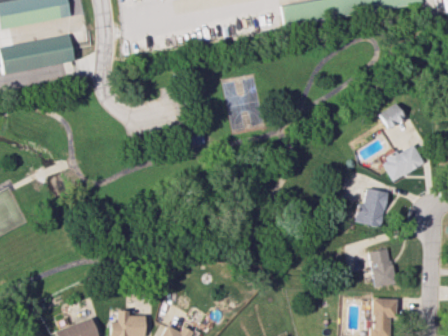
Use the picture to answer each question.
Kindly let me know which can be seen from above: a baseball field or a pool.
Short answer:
pool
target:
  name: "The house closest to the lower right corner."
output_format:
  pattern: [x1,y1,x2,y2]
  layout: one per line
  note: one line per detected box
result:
[370,300,398,336]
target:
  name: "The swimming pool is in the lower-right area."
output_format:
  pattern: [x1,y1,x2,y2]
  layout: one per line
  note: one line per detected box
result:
[340,296,372,336]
